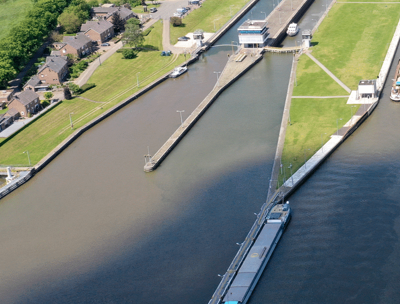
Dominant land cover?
water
